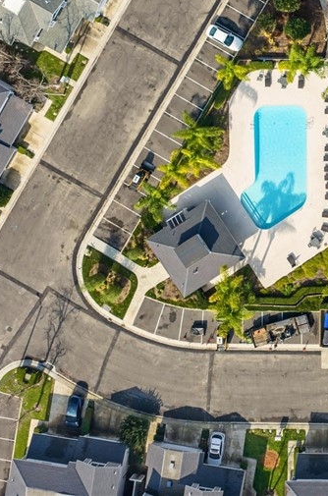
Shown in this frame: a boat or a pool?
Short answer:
pool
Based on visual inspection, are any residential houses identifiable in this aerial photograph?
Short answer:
Yes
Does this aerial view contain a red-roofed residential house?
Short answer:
No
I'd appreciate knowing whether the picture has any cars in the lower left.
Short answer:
Yes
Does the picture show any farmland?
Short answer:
No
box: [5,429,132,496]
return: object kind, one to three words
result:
house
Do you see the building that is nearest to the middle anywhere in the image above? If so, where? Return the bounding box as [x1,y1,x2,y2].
[147,200,245,297]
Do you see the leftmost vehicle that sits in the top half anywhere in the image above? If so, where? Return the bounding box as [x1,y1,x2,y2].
[127,160,150,191]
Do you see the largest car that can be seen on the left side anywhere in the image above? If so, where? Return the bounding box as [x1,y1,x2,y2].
[65,393,86,430]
